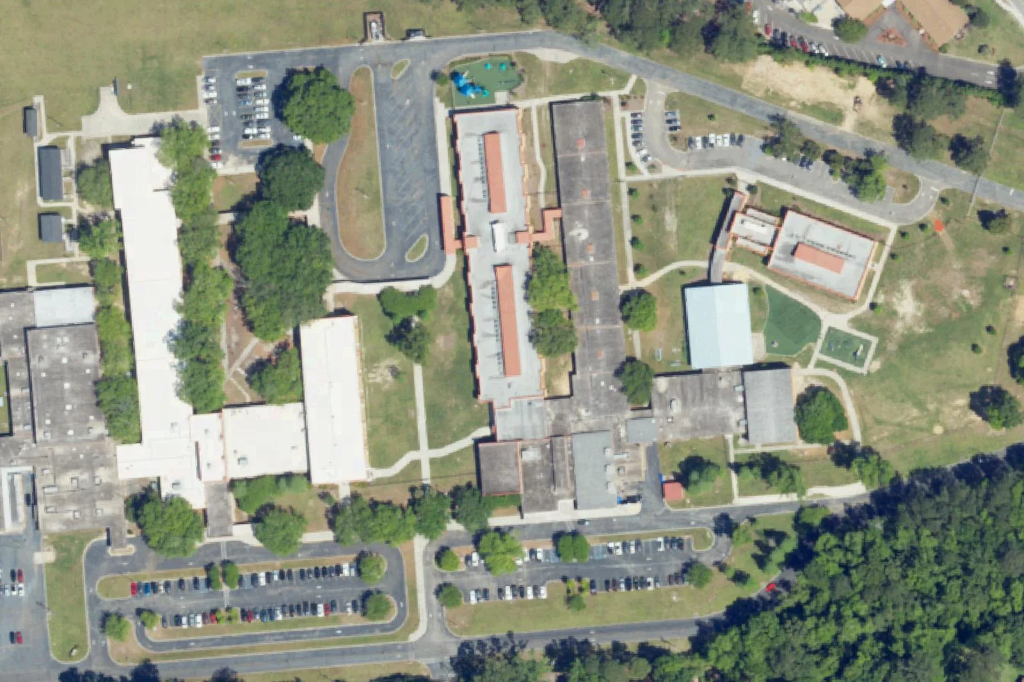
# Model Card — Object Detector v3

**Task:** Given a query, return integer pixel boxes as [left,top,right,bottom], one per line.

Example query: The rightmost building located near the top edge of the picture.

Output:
[904,0,969,47]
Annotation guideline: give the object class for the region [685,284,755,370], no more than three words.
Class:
building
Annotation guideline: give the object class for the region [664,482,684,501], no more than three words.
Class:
shed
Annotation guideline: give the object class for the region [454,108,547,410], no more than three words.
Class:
building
